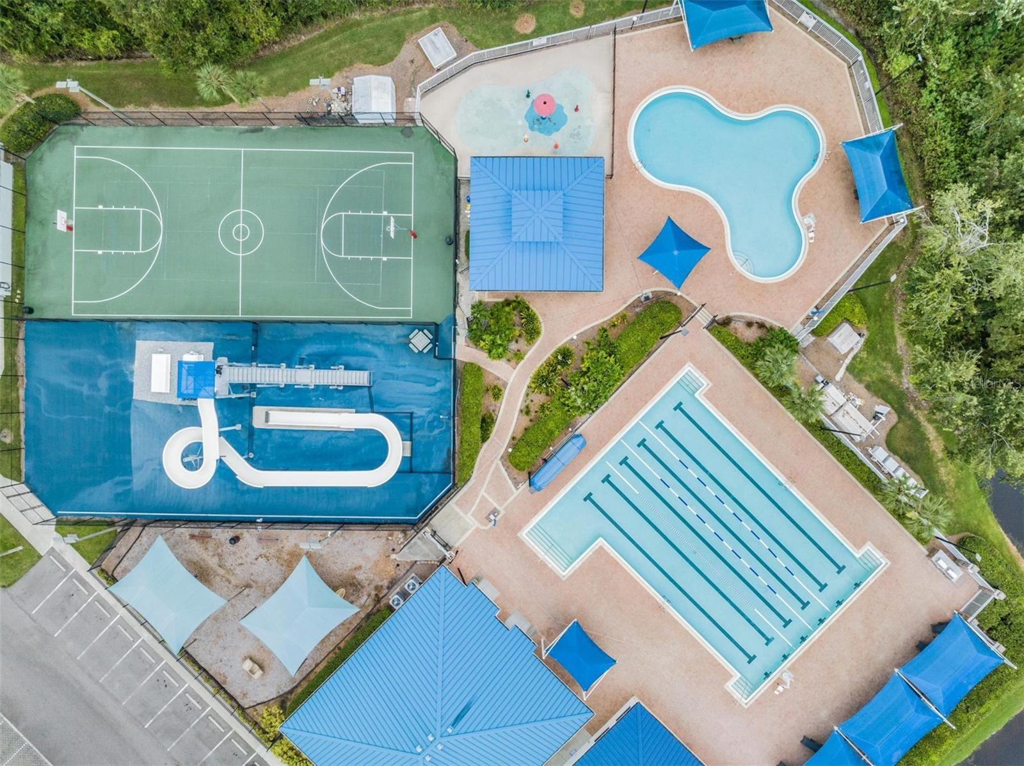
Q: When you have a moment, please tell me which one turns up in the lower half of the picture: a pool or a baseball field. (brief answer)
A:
pool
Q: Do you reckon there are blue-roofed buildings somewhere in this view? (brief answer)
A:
Yes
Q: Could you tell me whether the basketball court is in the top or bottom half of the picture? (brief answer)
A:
top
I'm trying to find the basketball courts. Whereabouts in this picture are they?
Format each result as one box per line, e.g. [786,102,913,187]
[25,125,457,321]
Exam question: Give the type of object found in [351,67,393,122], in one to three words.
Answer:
shed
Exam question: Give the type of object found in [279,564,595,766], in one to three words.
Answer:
building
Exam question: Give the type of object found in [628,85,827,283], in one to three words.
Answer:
swimming pool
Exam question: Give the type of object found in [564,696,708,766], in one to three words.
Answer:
building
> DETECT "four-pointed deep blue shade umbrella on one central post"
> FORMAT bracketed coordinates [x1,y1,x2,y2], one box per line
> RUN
[637,216,711,290]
